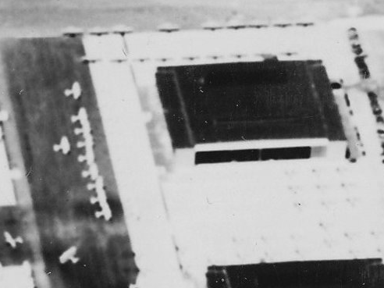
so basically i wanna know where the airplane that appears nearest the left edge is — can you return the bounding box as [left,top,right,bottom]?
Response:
[4,233,23,249]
